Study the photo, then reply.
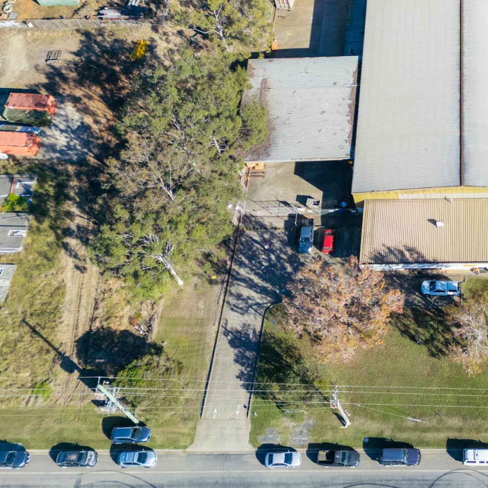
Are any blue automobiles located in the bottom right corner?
Yes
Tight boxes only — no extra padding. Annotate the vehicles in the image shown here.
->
[265,448,303,469]
[378,445,422,468]
[420,277,461,297]
[55,448,101,469]
[109,424,153,444]
[463,448,488,468]
[316,446,360,468]
[0,445,32,468]
[117,447,160,468]
[297,218,315,257]
[321,229,339,258]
